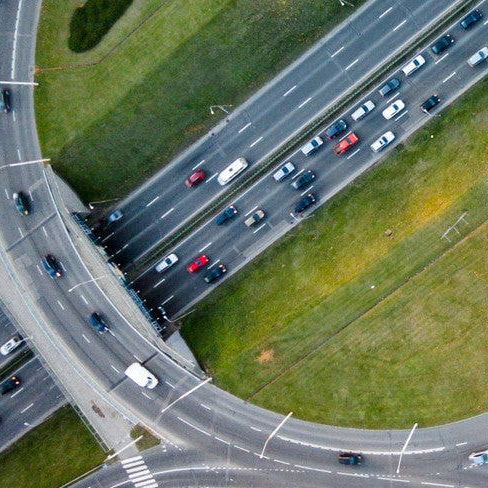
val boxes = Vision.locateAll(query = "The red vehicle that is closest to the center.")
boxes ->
[186,253,210,275]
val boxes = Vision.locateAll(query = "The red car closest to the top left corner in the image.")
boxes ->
[184,167,208,189]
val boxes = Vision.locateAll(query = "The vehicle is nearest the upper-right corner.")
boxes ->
[458,9,484,31]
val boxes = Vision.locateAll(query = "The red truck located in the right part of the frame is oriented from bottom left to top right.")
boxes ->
[332,132,359,157]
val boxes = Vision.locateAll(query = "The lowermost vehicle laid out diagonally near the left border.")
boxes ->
[0,373,24,396]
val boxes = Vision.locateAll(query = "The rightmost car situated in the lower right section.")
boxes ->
[468,448,488,465]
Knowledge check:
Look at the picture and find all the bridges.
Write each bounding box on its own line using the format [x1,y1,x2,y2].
[0,151,217,453]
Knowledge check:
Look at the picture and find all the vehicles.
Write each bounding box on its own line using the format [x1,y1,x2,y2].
[382,98,407,121]
[203,262,227,284]
[13,190,33,218]
[324,119,348,141]
[0,85,12,113]
[186,253,210,275]
[124,362,158,387]
[466,45,488,68]
[401,54,426,77]
[468,448,488,465]
[292,169,316,191]
[336,450,364,466]
[155,251,181,274]
[102,208,127,229]
[378,76,402,98]
[332,132,359,157]
[431,33,455,54]
[417,92,444,114]
[299,135,325,158]
[370,129,395,153]
[350,100,376,122]
[0,334,24,356]
[0,373,24,396]
[458,9,484,31]
[216,157,250,186]
[293,191,318,215]
[270,161,294,184]
[242,207,268,230]
[154,301,172,319]
[184,167,208,189]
